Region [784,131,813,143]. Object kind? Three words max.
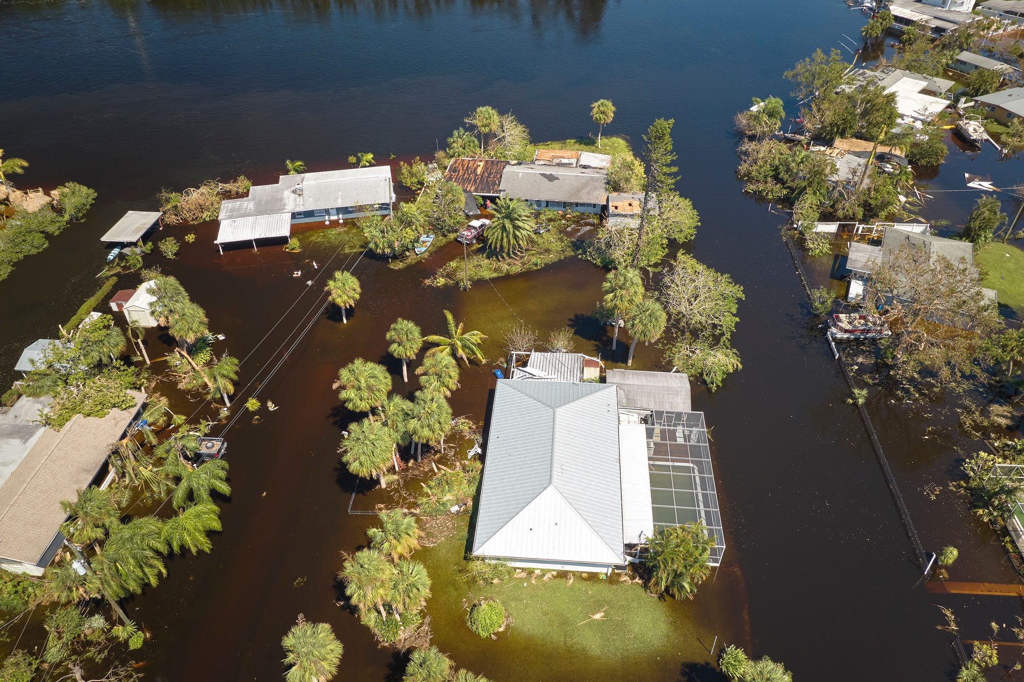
boat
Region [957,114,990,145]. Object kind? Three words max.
boat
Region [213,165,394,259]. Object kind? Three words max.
house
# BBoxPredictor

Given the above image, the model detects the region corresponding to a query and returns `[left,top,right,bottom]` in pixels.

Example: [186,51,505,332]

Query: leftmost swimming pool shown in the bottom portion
[620,435,721,575]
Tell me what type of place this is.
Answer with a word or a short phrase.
residential area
